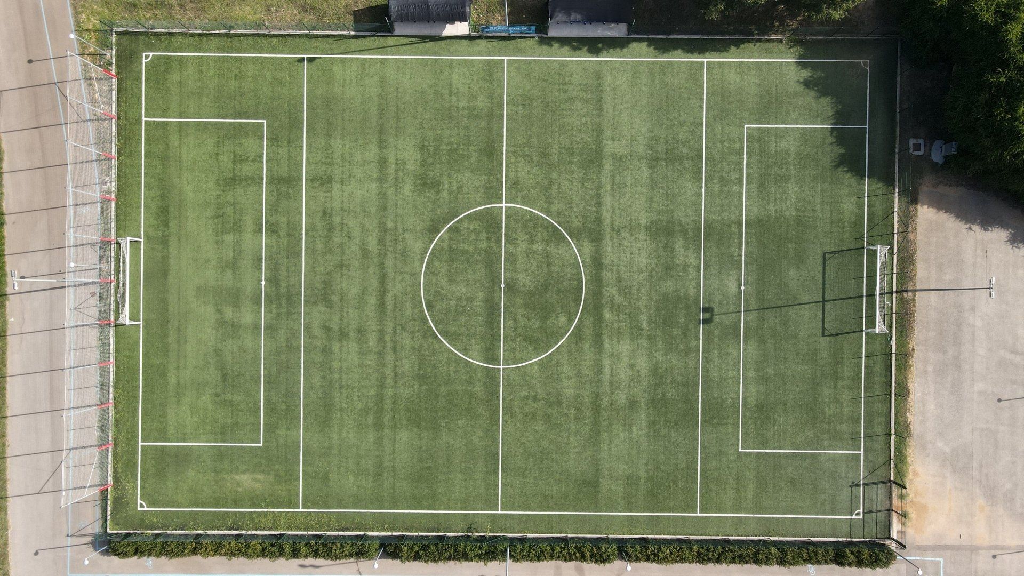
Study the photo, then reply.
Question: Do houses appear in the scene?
No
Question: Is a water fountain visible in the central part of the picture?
No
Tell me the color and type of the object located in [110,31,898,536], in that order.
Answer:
green soccer field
